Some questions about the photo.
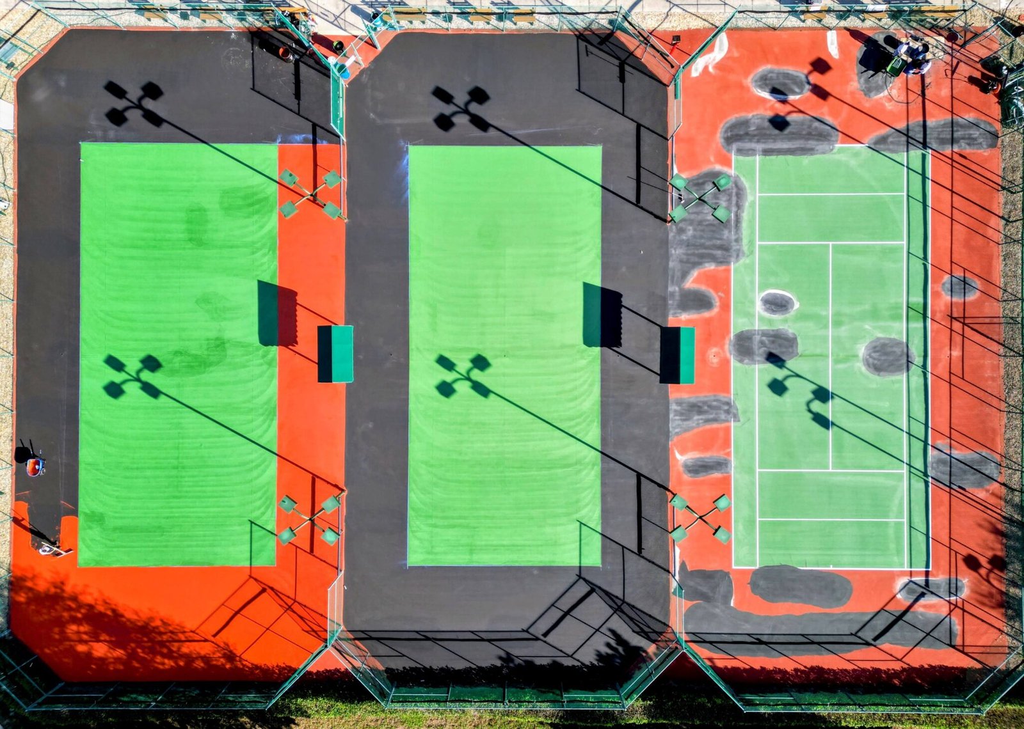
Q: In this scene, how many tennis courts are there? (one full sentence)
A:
The photo contains 3 tennis courts.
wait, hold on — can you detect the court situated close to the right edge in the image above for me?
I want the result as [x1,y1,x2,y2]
[669,29,1004,687]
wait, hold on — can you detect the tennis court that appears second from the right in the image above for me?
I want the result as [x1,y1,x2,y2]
[343,29,671,686]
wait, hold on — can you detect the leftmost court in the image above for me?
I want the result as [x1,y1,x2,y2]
[8,25,346,686]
